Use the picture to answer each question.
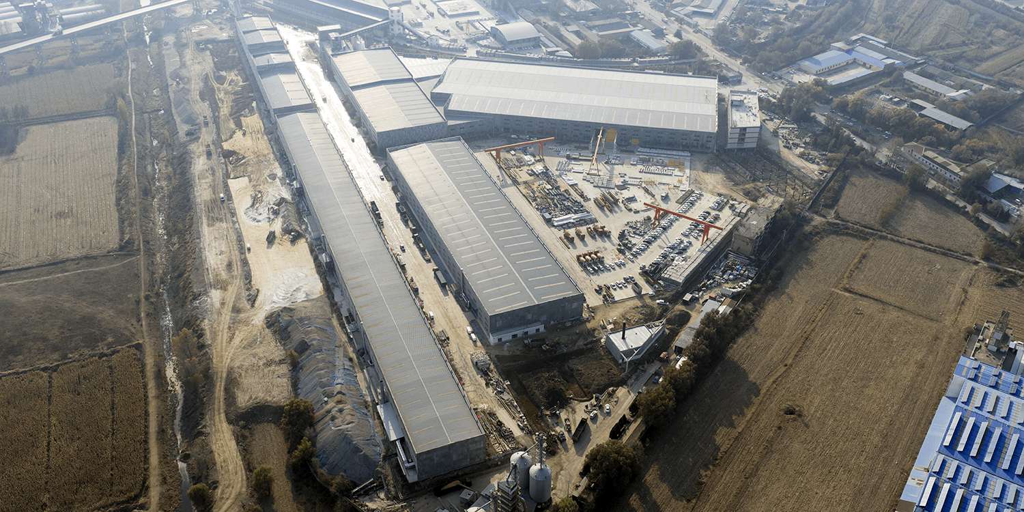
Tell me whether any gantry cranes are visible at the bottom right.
No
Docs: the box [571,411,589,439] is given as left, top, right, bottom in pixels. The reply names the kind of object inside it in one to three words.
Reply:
vehicle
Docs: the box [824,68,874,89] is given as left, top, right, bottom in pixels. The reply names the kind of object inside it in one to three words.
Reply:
shed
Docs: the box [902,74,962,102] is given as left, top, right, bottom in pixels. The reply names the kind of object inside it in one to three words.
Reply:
shed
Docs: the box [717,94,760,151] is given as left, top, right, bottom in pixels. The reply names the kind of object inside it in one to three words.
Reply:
building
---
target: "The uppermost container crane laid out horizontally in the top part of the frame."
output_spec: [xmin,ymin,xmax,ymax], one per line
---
[484,138,555,168]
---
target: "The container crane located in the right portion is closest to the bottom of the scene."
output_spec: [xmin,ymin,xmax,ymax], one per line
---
[644,203,723,240]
